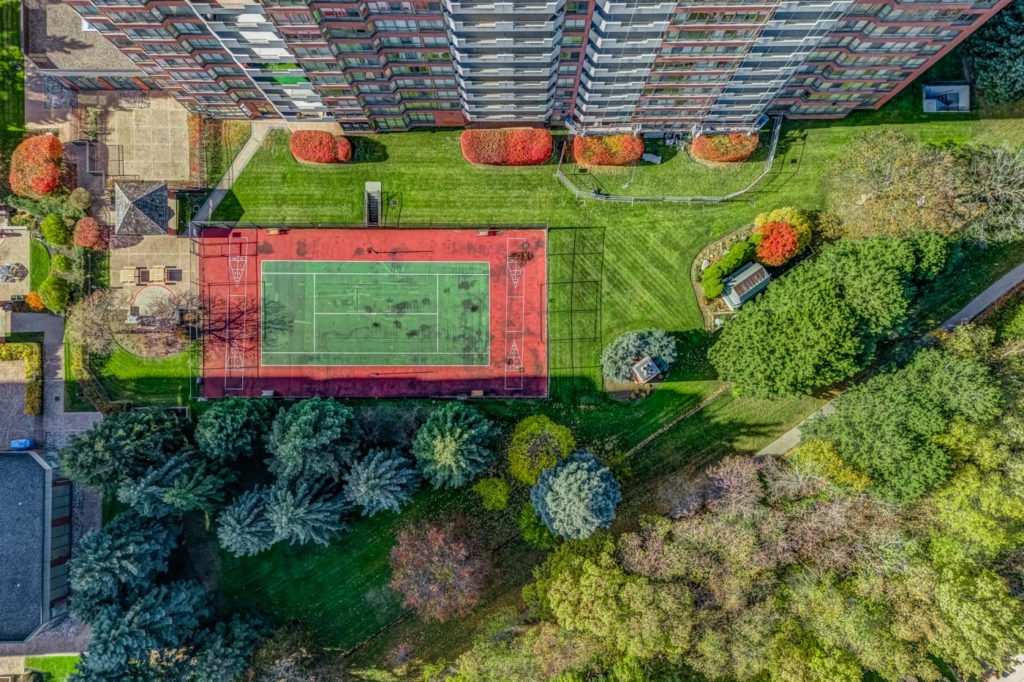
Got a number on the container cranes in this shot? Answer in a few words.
none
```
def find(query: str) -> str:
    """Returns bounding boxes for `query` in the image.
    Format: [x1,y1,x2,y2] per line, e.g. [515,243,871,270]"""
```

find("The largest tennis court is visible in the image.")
[197,227,547,399]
